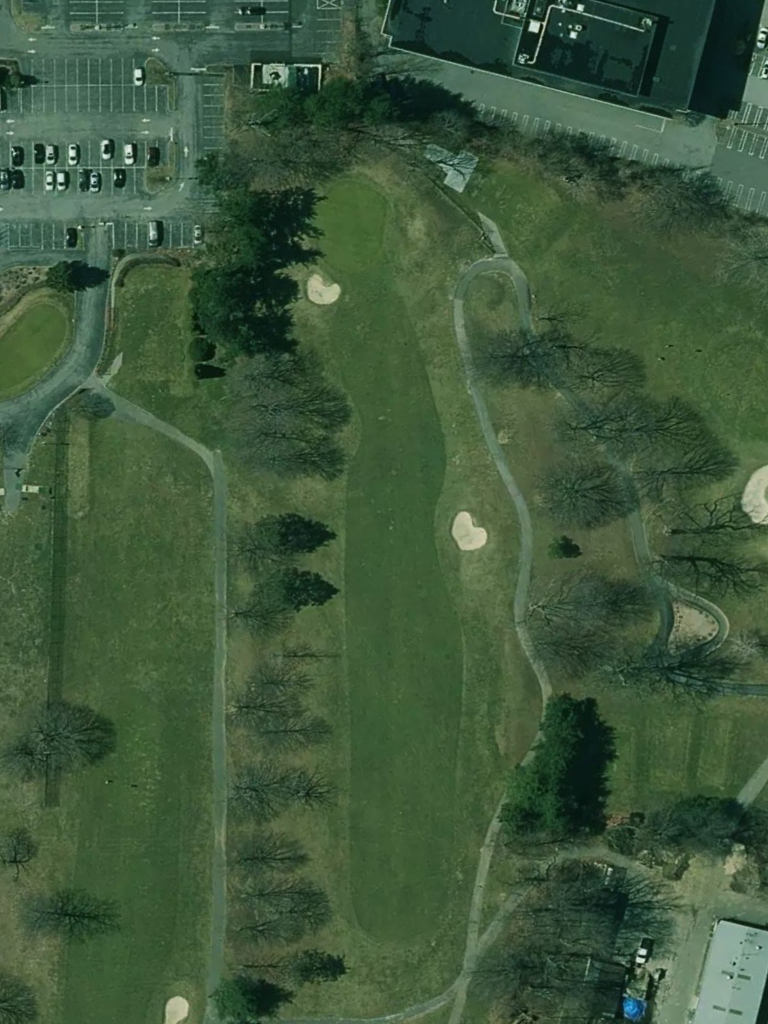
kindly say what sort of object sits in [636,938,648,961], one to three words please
vehicle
